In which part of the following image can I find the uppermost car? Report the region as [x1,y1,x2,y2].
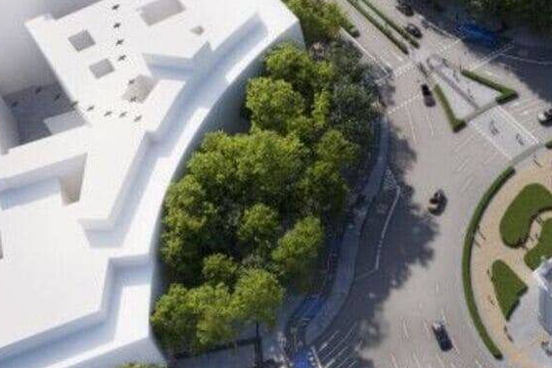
[397,0,411,13]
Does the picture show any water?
No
